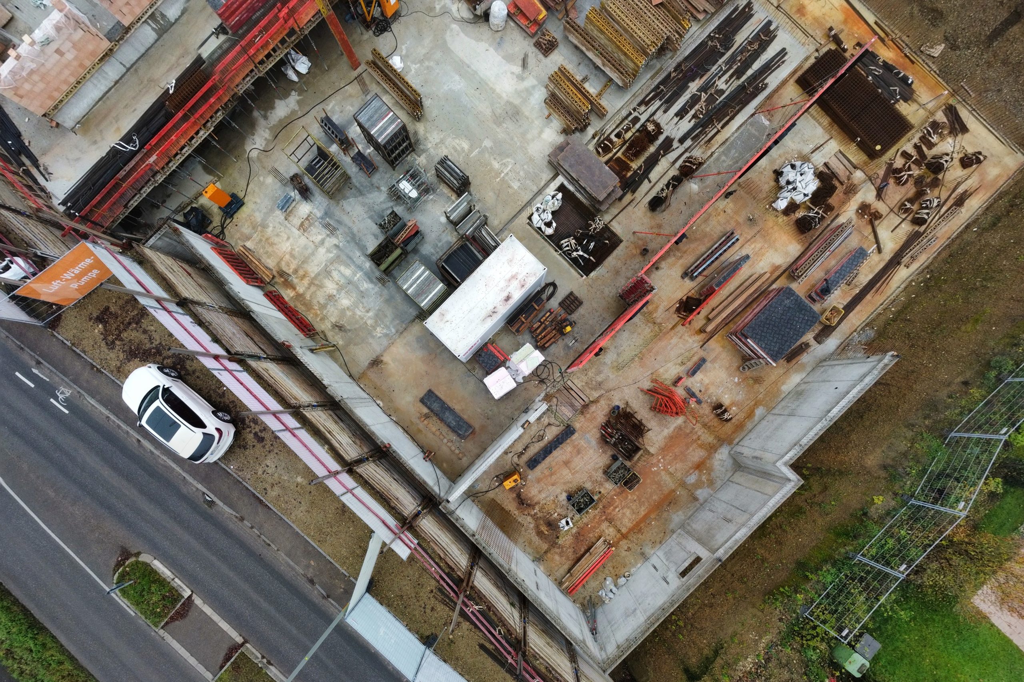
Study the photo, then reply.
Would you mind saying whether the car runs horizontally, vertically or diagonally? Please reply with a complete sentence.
The car is oriented diagonally.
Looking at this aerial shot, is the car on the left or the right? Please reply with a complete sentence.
It is on the left.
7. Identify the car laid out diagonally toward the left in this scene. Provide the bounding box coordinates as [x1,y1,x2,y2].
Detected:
[119,361,243,467]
